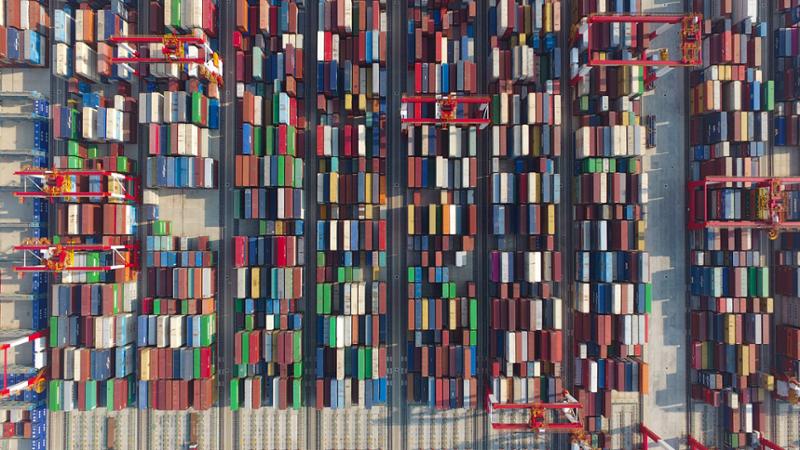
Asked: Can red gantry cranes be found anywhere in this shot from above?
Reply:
Yes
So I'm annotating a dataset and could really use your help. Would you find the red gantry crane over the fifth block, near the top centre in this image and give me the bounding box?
[400,93,491,140]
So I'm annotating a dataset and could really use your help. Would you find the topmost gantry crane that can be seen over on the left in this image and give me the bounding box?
[111,30,230,111]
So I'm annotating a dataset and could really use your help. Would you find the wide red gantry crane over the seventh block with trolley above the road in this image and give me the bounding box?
[566,10,705,84]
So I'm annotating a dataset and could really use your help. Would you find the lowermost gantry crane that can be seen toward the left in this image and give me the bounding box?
[0,328,48,396]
